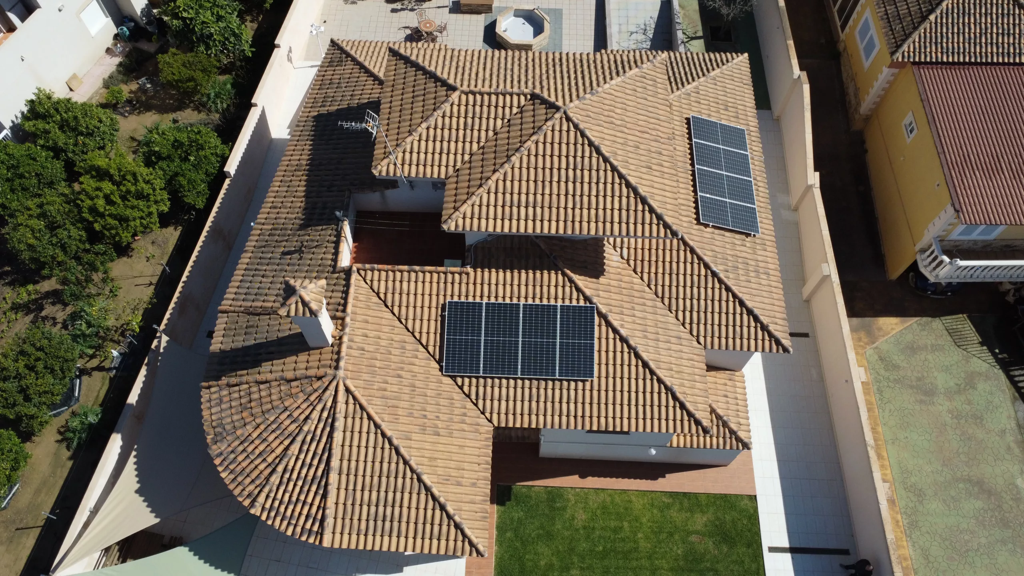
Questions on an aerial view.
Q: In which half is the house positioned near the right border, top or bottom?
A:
top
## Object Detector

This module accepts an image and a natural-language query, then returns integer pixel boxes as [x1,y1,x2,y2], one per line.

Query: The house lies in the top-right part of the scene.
[823,0,1024,287]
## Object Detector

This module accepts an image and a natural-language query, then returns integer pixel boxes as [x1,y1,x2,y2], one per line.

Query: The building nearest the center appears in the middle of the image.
[194,38,796,561]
